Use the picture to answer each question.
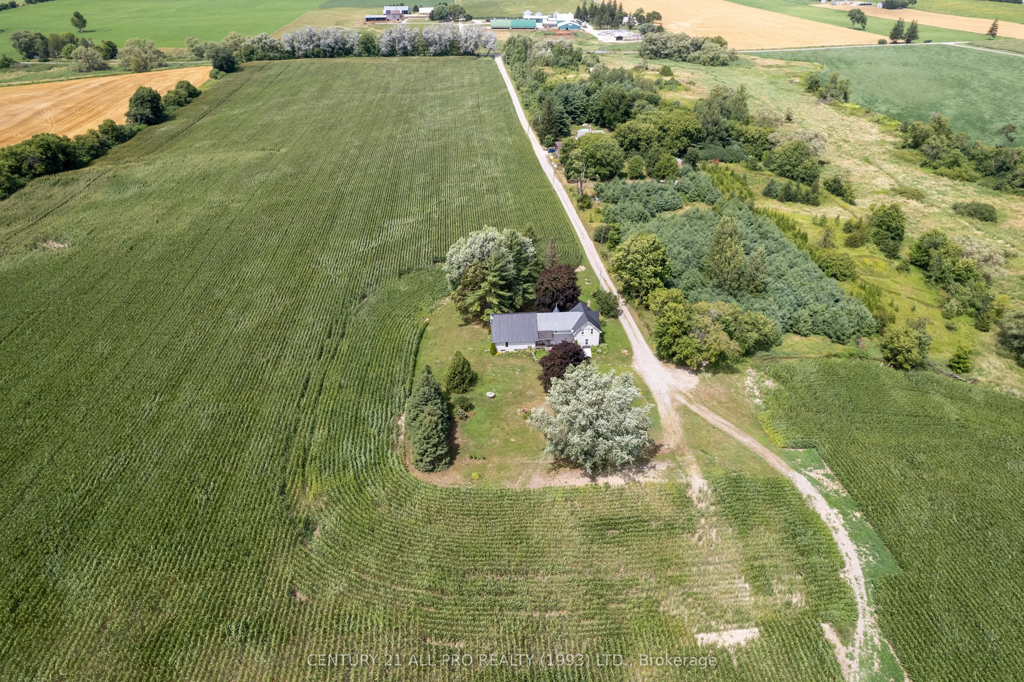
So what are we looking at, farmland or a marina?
farmland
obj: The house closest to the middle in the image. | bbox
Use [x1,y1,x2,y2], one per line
[489,299,603,351]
